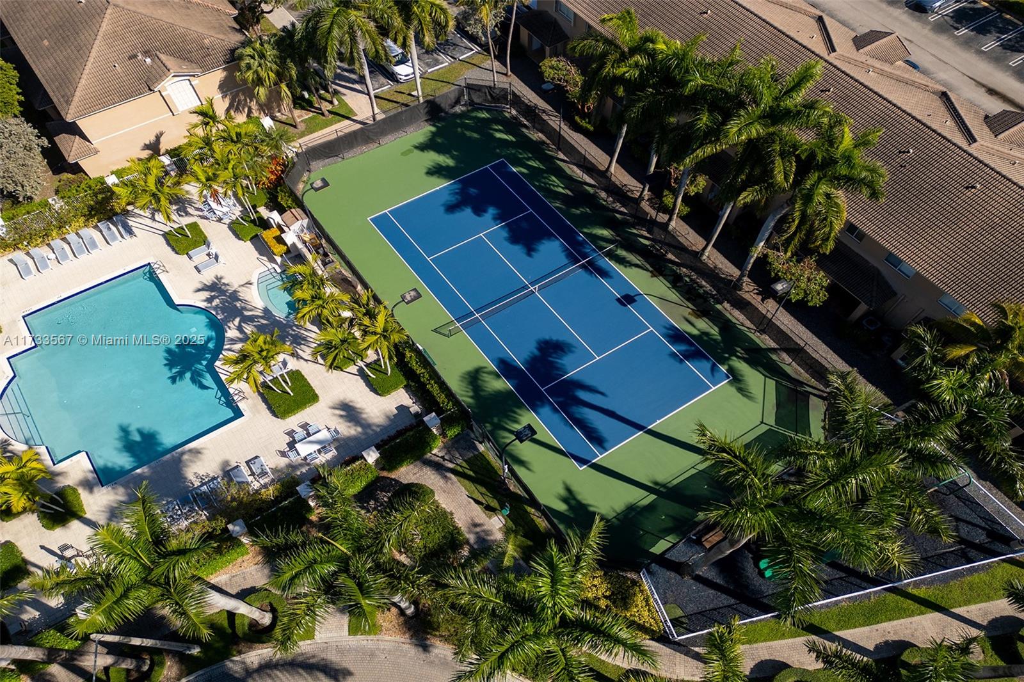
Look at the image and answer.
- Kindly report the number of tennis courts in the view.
1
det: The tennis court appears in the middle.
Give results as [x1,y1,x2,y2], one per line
[303,108,826,570]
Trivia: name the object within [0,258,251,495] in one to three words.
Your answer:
swimming pool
